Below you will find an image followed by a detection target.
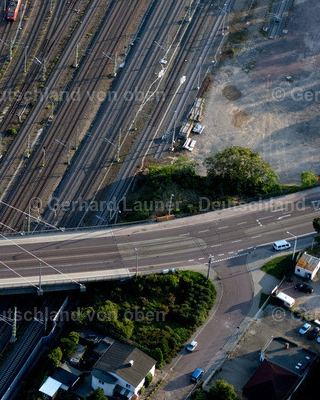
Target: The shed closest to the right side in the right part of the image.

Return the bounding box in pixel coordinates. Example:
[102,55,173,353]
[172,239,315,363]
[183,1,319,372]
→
[294,253,320,281]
